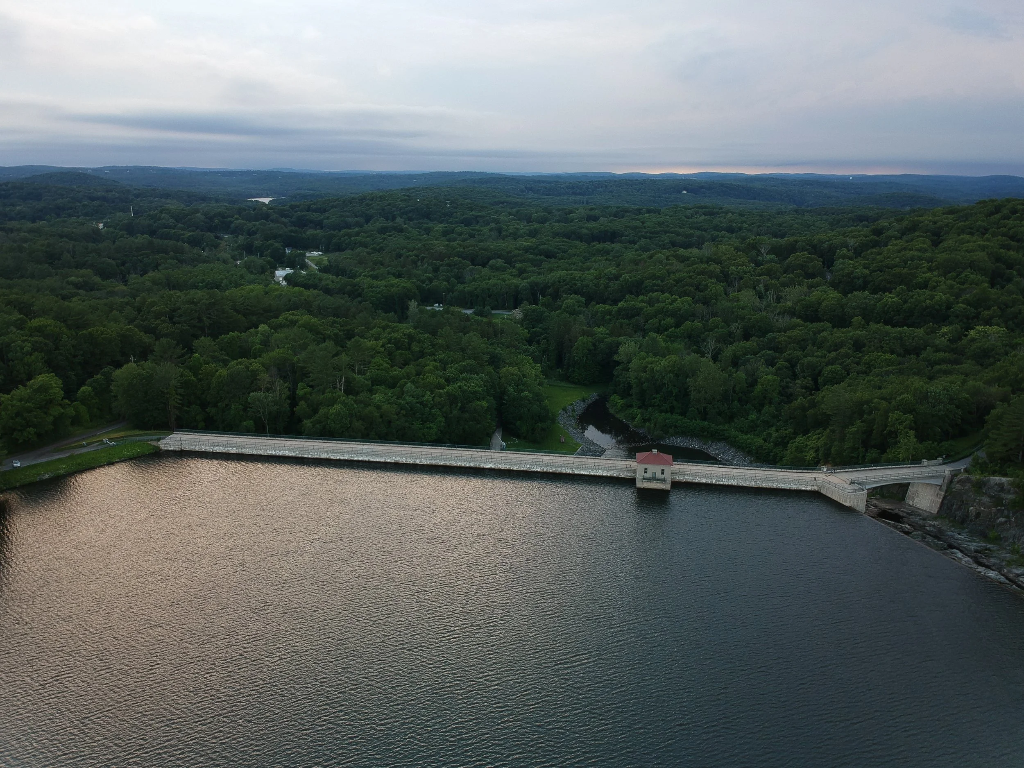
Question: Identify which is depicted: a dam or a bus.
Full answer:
Of the two, only a dam appears.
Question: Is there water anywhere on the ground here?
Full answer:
Yes, there's water in this view.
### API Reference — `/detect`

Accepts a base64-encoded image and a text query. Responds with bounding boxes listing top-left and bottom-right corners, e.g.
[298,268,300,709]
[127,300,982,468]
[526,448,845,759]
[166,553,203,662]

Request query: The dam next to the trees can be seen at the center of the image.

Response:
[154,432,819,491]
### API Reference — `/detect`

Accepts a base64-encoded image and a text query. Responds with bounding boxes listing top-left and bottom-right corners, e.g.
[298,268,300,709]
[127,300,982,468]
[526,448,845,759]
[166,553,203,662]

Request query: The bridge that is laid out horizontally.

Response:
[823,457,967,487]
